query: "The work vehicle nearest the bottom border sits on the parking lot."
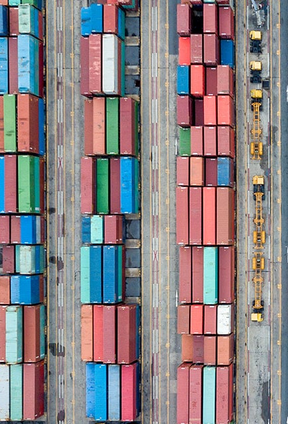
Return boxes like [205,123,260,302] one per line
[251,303,264,323]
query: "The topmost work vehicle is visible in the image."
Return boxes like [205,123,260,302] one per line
[249,28,263,52]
